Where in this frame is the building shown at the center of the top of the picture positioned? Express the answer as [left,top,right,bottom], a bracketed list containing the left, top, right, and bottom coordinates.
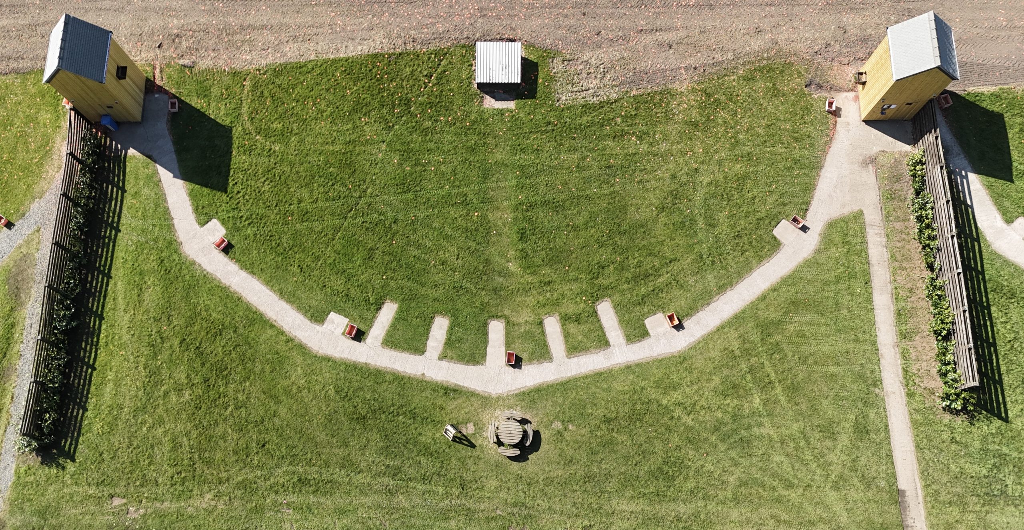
[475,41,521,88]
